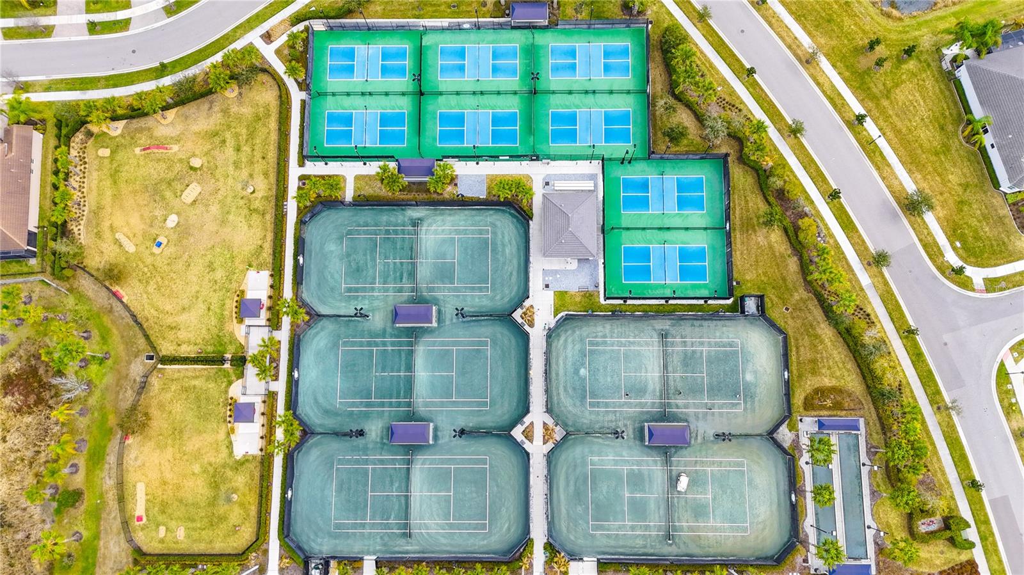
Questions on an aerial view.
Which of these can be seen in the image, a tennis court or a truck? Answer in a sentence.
It is a tennis court that can be seen here.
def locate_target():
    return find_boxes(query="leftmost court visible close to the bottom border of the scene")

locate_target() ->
[291,432,529,559]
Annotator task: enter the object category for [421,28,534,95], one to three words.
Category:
sports court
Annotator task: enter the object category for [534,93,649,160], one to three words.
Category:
sports court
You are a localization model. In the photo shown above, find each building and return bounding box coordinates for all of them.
[957,48,1024,190]
[542,191,598,259]
[0,125,41,256]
